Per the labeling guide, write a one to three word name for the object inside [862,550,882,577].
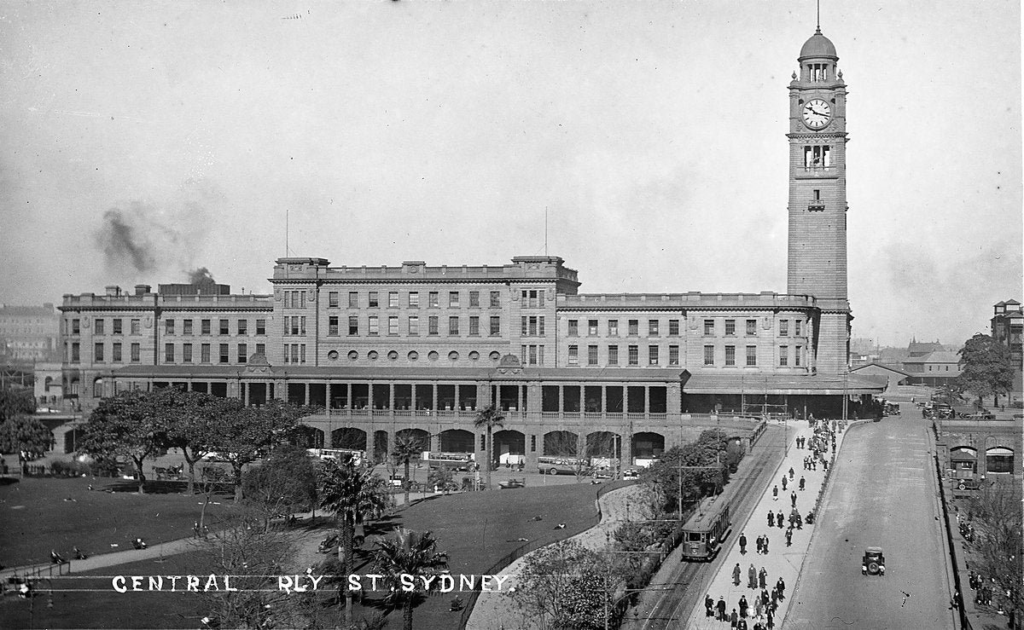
car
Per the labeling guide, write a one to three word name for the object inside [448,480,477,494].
car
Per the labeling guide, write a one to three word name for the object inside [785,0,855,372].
building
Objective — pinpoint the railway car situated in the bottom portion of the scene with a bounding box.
[681,478,729,558]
